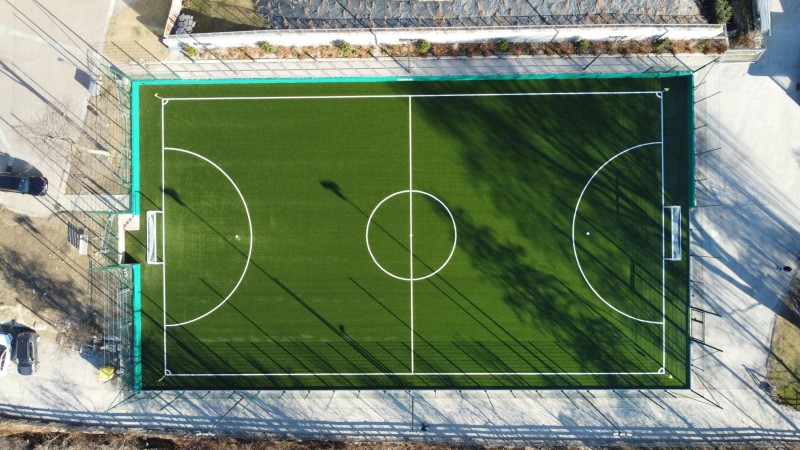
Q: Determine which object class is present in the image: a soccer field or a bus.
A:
soccer field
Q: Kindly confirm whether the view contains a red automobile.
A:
No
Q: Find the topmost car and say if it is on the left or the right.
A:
left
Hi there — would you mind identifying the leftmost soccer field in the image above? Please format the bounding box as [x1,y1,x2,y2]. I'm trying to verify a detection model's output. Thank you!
[127,78,690,390]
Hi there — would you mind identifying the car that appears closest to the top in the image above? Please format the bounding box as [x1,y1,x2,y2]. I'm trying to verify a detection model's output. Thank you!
[0,174,45,198]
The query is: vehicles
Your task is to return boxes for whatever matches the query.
[0,174,45,198]
[0,332,11,378]
[12,330,40,375]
